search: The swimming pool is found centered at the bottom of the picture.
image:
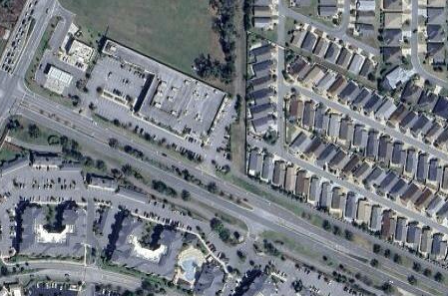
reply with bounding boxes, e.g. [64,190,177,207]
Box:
[177,247,203,287]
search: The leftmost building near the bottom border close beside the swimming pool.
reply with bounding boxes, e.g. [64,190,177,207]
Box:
[108,217,183,282]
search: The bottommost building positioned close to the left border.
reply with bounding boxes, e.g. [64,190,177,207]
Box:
[18,207,87,257]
